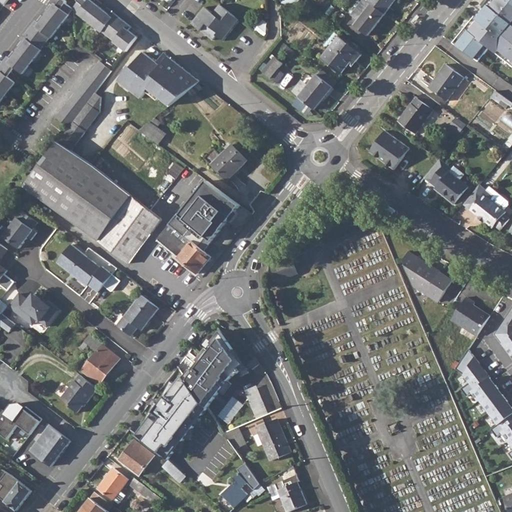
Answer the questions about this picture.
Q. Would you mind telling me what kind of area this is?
residential area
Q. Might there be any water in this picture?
No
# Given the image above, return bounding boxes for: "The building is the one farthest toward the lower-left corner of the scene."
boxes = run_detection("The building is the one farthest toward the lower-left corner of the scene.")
[0,469,32,511]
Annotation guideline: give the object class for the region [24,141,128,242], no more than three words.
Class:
building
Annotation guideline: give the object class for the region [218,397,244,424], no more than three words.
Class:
shed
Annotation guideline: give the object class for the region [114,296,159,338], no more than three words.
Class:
house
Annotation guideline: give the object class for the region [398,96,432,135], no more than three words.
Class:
house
